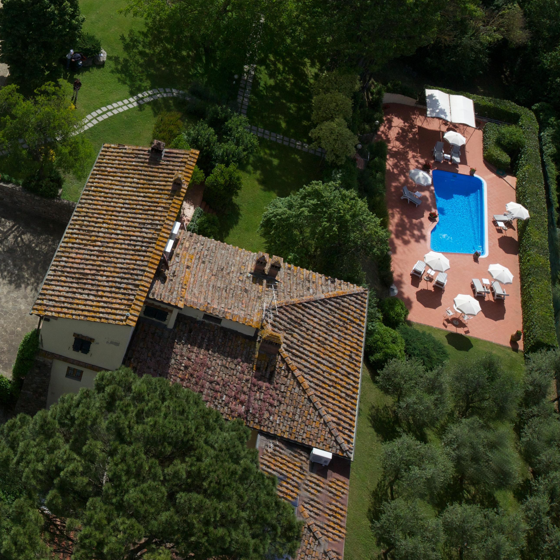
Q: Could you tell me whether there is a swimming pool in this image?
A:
Yes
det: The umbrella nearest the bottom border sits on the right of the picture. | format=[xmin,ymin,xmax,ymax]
[453,294,482,326]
